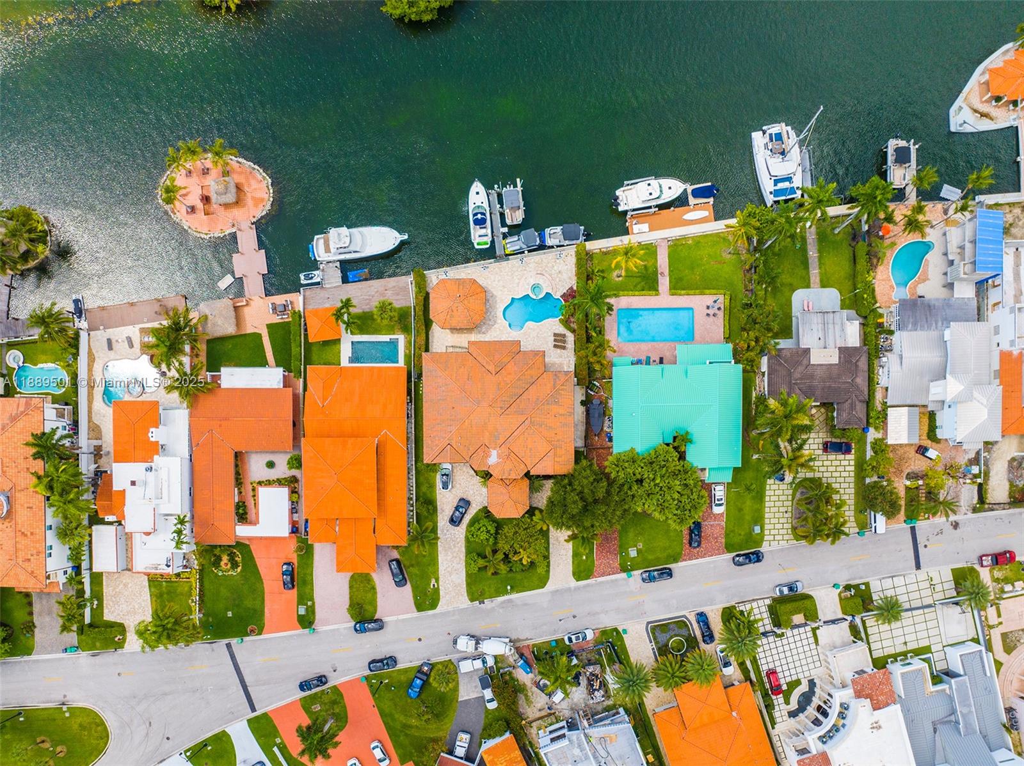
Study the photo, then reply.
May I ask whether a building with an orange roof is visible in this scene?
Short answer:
Yes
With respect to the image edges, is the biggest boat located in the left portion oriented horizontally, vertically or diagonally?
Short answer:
horizontally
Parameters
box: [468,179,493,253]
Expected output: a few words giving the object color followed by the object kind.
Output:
white boat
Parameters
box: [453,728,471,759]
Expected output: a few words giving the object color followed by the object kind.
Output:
white vehicle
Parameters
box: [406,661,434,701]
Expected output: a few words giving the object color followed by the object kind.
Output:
blue truck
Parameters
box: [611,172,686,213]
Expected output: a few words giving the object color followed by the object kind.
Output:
white boat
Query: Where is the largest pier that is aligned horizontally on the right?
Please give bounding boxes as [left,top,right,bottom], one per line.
[625,201,715,235]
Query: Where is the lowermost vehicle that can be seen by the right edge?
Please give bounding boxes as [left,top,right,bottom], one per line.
[980,551,1020,568]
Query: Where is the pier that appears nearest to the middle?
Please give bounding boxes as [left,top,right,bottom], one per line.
[488,188,503,257]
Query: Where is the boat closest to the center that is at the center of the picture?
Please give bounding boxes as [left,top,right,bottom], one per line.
[588,396,604,441]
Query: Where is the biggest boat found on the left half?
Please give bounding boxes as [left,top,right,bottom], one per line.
[311,225,403,260]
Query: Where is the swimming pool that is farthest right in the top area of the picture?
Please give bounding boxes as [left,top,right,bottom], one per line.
[888,239,935,301]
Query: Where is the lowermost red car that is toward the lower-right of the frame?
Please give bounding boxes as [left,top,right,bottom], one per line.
[766,670,784,699]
